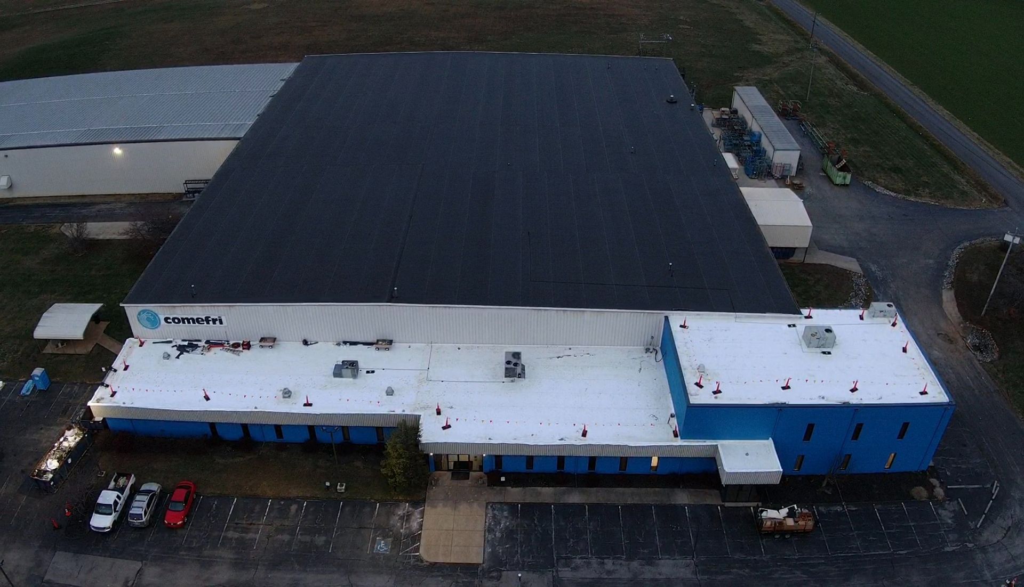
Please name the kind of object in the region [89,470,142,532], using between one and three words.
truck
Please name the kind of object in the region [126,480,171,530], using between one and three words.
car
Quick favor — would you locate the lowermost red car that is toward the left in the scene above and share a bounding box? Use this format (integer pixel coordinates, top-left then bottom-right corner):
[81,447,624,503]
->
[161,478,200,528]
